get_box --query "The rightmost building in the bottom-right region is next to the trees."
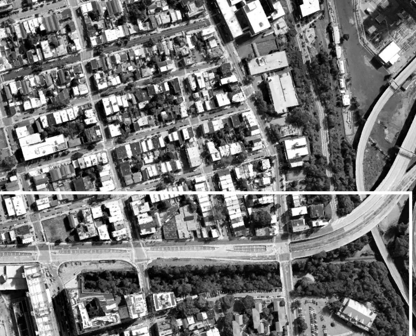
[333,297,377,331]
